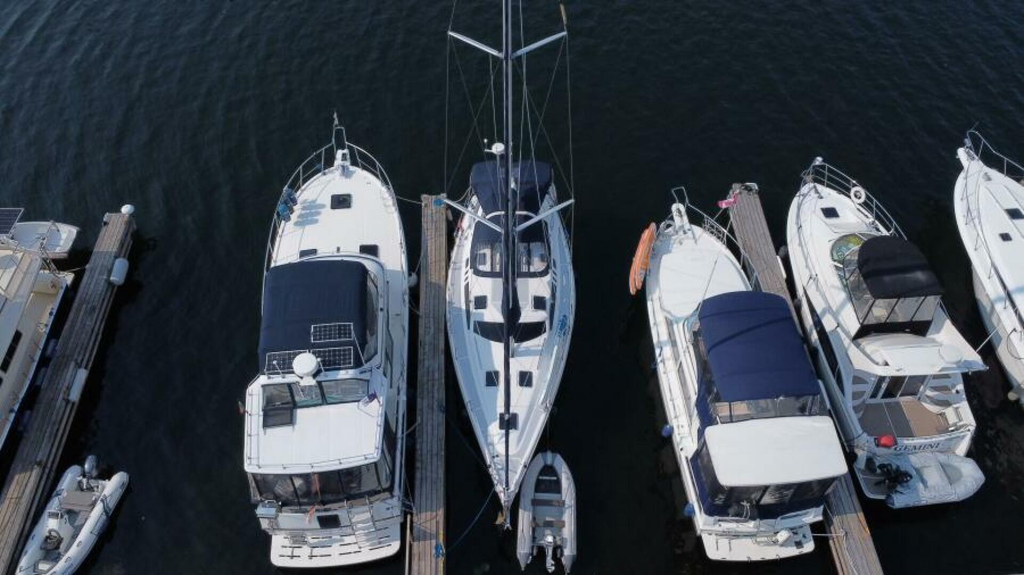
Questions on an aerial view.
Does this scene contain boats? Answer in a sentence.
Yes, the picture does show a boat.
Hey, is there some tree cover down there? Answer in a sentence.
No, the picture contains no tree cover.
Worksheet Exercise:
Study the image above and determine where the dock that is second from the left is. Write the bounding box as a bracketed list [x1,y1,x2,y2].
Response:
[408,191,450,575]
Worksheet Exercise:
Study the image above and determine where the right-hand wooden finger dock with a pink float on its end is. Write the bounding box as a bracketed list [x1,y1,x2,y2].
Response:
[726,184,885,575]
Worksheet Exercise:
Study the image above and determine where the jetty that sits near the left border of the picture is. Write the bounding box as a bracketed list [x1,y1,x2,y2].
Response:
[0,210,137,575]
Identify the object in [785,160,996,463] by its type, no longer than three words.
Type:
boat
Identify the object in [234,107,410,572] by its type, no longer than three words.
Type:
boat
